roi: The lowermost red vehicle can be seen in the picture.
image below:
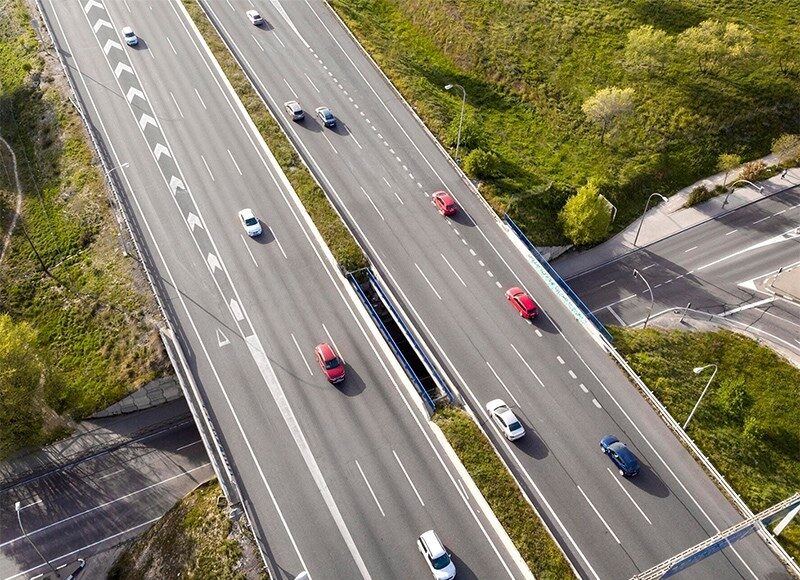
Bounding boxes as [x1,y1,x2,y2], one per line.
[315,342,349,385]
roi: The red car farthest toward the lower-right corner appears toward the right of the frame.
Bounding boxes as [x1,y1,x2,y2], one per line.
[507,286,543,320]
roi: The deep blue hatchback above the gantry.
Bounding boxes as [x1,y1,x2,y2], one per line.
[602,434,648,482]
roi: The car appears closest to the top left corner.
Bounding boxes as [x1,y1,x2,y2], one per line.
[123,27,141,45]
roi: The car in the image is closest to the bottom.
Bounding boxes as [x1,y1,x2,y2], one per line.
[417,528,462,580]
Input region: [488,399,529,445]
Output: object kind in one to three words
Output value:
car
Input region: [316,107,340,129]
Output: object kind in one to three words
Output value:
car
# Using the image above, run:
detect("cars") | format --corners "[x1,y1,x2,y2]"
[417,528,462,580]
[434,192,462,217]
[315,342,349,385]
[284,99,307,121]
[247,9,266,26]
[316,107,340,129]
[488,399,529,445]
[238,207,264,237]
[602,434,648,482]
[123,27,141,45]
[507,286,543,320]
